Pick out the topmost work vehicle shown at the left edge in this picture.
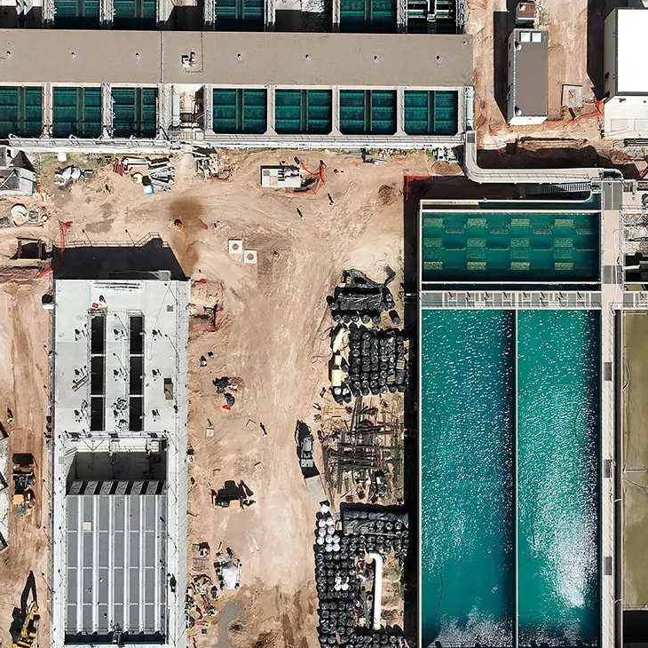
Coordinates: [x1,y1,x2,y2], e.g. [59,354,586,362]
[9,472,33,519]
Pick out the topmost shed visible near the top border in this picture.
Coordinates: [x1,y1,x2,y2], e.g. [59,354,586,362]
[514,2,537,25]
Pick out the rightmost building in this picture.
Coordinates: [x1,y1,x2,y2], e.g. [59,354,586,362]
[604,8,648,106]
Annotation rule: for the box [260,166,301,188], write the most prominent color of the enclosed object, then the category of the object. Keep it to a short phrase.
white trailer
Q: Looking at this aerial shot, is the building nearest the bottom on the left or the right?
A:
left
